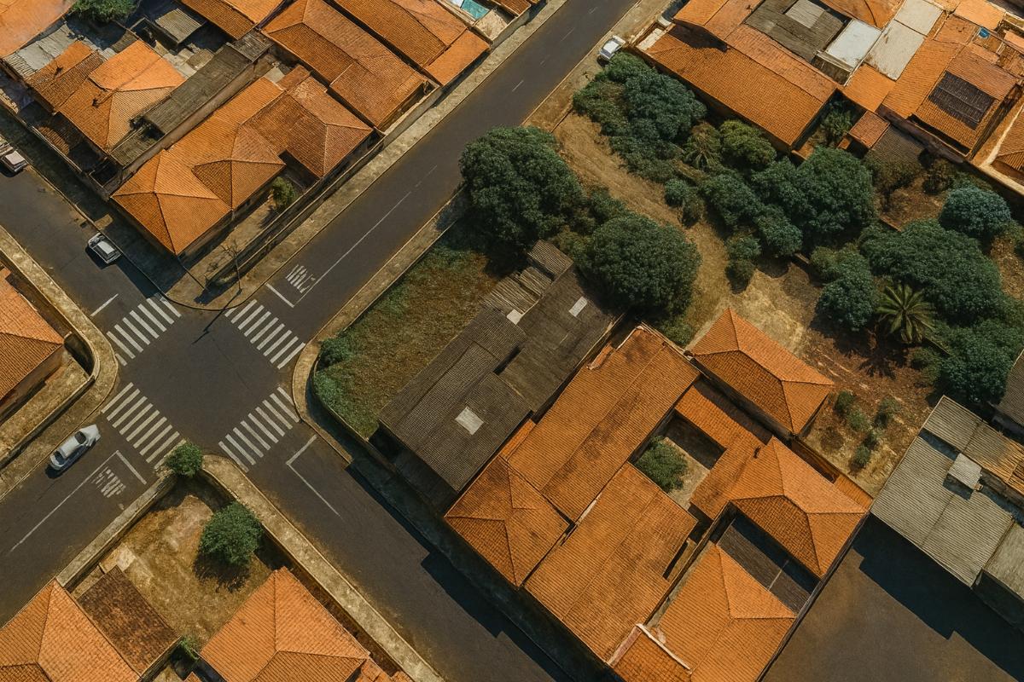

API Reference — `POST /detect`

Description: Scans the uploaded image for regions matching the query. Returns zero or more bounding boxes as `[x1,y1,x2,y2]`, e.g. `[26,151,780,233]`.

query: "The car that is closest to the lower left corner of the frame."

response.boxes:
[43,425,100,475]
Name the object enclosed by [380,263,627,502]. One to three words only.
shed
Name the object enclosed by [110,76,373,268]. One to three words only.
house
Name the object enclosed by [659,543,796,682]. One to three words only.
house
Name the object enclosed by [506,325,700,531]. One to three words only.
warehouse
